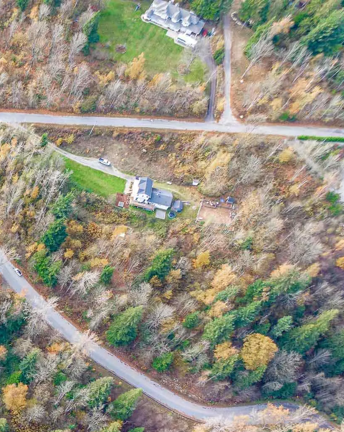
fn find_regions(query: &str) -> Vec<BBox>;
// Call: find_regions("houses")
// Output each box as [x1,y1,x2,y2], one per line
[130,171,177,211]
[137,0,206,36]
